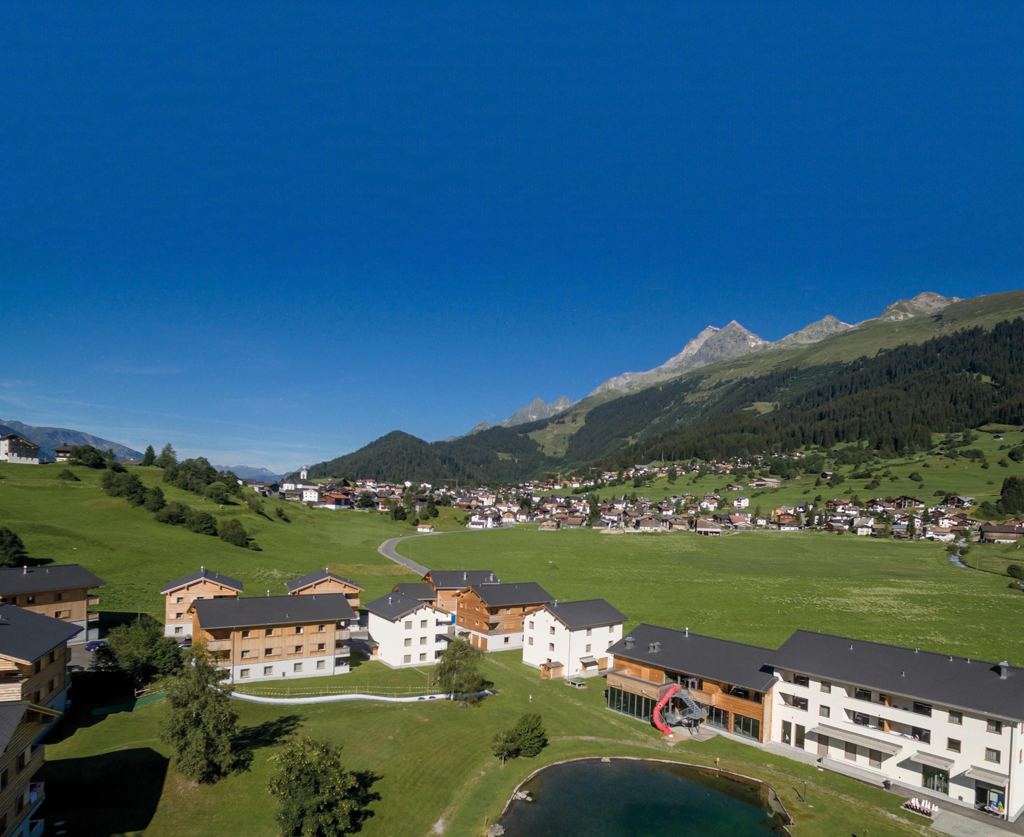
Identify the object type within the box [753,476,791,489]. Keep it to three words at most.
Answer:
building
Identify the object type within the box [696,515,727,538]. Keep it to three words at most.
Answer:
building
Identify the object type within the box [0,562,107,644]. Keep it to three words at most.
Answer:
house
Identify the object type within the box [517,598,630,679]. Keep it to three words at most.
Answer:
house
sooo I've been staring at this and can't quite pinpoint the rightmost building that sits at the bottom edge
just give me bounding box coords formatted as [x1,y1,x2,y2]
[761,627,1024,823]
